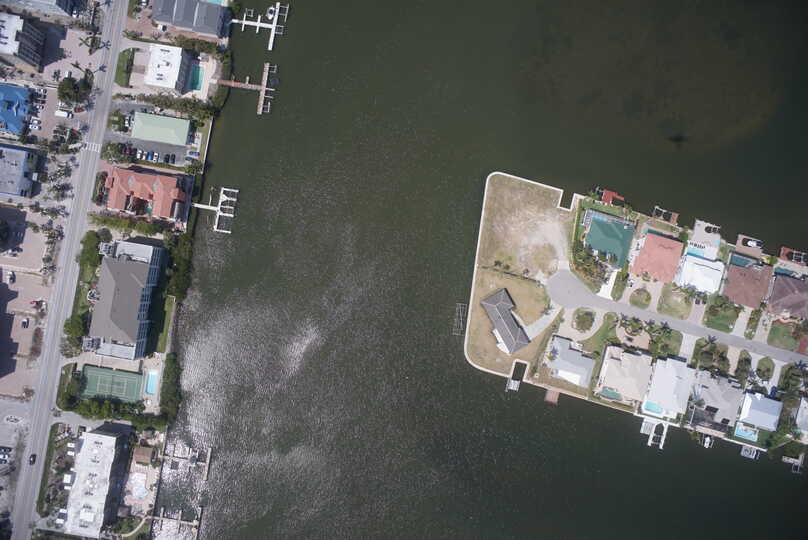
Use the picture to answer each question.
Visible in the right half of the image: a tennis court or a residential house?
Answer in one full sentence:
What appears in the right half of the image is a residential house.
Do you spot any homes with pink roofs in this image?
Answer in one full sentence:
Yes, a home with a pink roof can be made out from above.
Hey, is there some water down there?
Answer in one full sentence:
Yes, there is water in the image.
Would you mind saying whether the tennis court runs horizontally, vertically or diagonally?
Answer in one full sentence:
The tennis court has been laid out horizontally relative to the frame.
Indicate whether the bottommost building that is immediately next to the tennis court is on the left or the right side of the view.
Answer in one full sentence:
The bottommost building that is immediately next to the tennis court appears in the left half of the scene.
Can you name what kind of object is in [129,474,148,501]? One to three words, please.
swimming pool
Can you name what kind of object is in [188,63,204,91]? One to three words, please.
swimming pool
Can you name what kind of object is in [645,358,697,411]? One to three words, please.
house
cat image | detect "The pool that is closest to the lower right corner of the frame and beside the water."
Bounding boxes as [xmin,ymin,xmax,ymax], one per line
[734,423,760,442]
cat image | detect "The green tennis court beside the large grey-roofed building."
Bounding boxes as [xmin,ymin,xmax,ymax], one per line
[78,365,143,403]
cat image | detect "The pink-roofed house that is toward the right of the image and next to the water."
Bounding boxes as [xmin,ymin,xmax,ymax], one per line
[628,234,684,283]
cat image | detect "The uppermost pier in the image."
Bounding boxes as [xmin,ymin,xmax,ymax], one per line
[230,1,281,51]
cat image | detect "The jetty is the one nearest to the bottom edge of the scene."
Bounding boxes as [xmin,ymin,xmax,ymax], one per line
[148,506,204,540]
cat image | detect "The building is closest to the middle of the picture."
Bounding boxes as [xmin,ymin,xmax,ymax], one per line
[481,288,529,354]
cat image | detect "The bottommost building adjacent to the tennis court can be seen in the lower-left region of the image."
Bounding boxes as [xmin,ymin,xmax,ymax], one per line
[65,426,131,538]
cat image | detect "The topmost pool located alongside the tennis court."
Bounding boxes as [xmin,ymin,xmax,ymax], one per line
[144,373,159,396]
